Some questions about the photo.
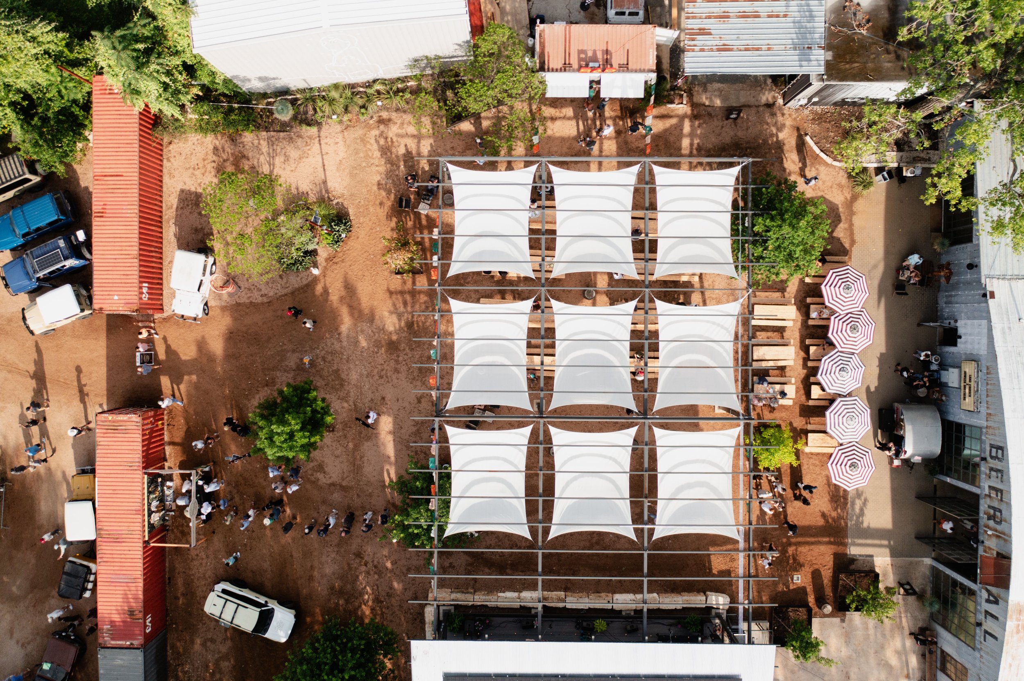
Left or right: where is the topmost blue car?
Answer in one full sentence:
You can find the topmost blue car on the left side of the picture.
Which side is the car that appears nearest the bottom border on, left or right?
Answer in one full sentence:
The car that appears nearest the bottom border sits on the left side.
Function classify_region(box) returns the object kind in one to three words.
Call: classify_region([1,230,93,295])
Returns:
car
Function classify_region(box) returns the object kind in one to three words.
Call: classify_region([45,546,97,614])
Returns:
car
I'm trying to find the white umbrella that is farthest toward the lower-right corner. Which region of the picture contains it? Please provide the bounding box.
[825,440,875,487]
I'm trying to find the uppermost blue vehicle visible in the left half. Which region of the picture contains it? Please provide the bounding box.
[0,188,91,250]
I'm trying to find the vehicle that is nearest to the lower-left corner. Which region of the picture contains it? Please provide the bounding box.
[29,619,89,681]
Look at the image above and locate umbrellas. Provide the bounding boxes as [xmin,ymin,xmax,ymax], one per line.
[825,440,875,487]
[817,267,867,313]
[819,395,870,444]
[825,307,876,352]
[815,349,865,397]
